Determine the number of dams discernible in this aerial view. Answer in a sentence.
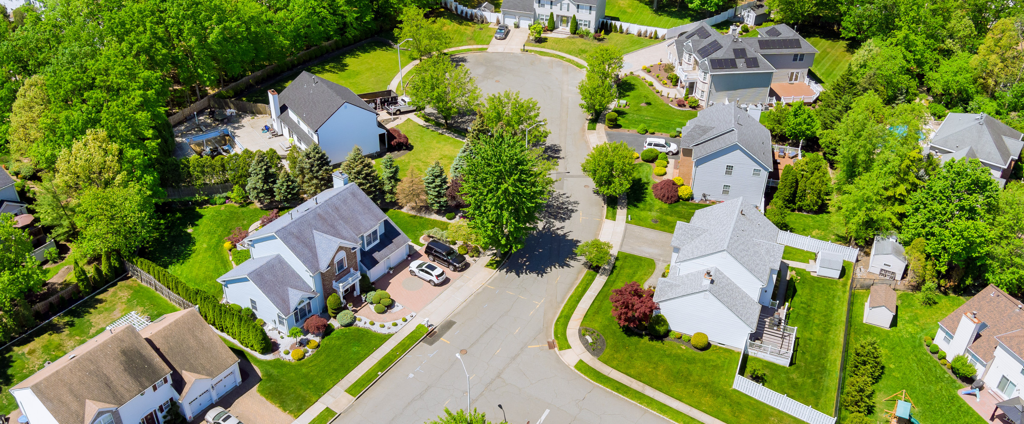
I count no dams.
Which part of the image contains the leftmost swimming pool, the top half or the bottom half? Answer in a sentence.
You can find the leftmost swimming pool in the top half.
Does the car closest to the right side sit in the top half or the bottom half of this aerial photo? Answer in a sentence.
The car closest to the right side sits in the top half of the picture.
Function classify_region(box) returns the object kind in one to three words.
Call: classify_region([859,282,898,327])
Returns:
shed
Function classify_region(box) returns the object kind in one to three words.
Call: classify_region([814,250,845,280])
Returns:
shed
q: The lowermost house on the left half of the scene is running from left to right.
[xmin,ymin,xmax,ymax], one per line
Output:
[6,310,241,424]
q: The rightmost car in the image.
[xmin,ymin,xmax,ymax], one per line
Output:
[644,133,680,153]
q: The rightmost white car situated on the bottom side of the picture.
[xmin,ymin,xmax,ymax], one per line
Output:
[408,258,450,284]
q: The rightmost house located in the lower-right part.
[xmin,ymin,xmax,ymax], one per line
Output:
[934,283,1024,397]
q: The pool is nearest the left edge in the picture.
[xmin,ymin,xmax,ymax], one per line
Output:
[188,127,247,162]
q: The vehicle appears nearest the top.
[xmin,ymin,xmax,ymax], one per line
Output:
[493,24,511,37]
